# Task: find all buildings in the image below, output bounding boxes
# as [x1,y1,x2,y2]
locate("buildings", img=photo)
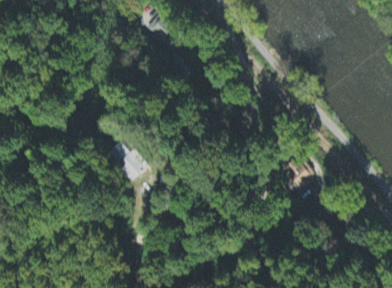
[114,151,150,182]
[284,159,314,186]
